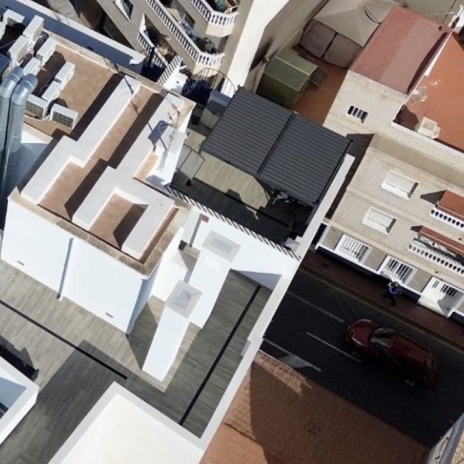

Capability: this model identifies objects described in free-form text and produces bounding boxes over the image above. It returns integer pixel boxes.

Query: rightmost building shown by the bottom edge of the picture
[423,414,464,464]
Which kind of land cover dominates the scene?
buildings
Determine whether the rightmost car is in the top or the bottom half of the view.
bottom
